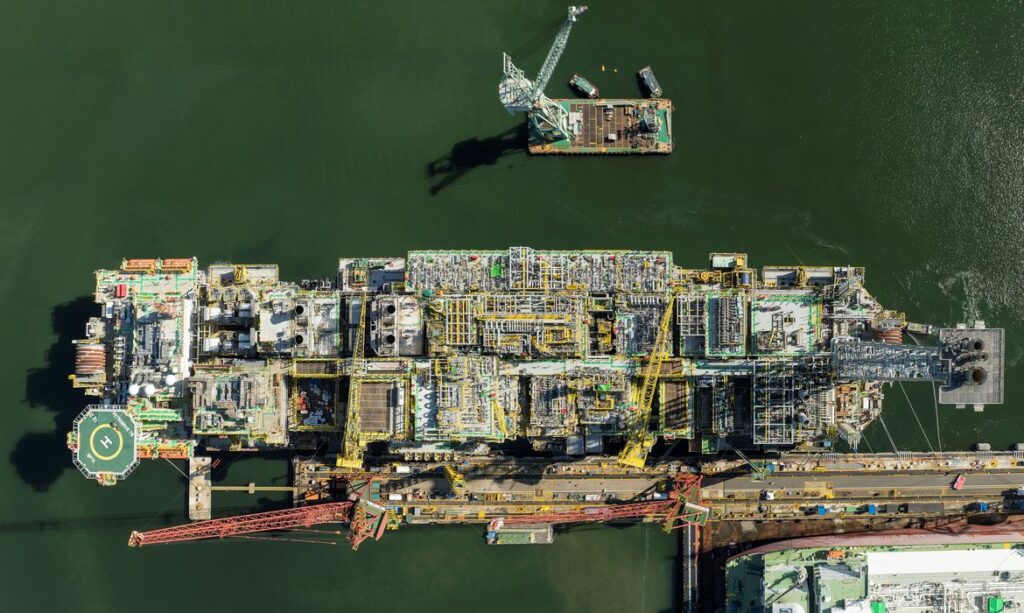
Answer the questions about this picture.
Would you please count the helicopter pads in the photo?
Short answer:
1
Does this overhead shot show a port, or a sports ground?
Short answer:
port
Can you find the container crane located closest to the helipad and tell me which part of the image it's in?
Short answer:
bottom left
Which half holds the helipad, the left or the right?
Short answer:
left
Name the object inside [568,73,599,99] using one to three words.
boat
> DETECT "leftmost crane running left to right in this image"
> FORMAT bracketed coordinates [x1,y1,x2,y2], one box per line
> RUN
[121,474,388,548]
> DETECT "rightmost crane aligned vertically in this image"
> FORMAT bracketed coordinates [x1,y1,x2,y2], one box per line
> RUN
[618,290,678,470]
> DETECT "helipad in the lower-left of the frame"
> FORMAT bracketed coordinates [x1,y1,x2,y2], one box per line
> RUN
[65,404,155,488]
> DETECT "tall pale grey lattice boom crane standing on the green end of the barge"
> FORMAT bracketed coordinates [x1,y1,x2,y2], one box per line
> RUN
[499,3,588,142]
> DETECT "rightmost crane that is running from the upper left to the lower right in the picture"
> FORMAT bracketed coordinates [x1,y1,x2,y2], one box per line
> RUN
[731,445,770,482]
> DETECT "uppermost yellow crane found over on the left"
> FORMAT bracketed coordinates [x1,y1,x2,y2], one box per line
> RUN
[335,289,369,475]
